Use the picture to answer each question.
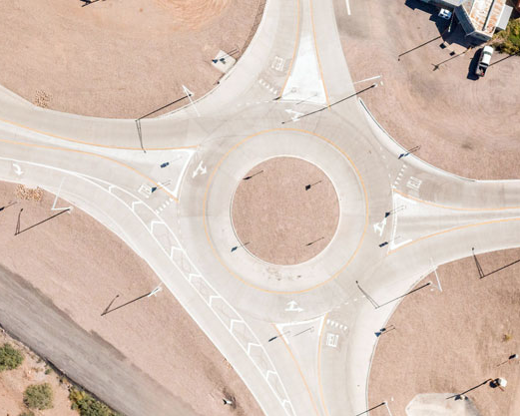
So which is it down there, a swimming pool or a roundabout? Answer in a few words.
roundabout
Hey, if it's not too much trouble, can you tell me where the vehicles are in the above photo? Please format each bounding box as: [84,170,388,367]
[477,47,494,76]
[437,10,452,22]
